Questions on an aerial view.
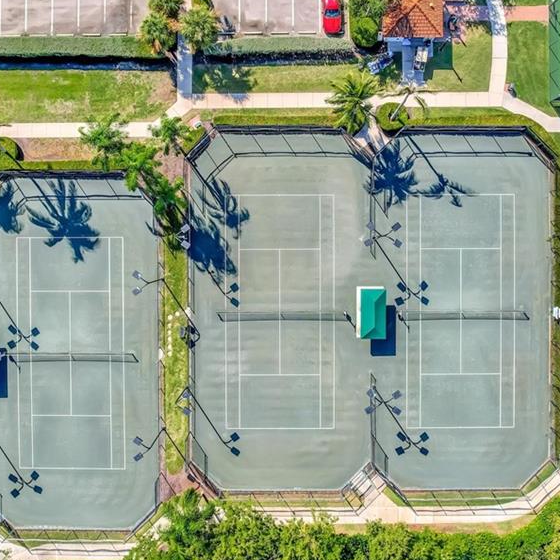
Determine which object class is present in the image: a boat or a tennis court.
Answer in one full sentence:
The one in the frame is a tennis court.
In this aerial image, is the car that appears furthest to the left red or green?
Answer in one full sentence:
The color of the car that appears furthest to the left is red.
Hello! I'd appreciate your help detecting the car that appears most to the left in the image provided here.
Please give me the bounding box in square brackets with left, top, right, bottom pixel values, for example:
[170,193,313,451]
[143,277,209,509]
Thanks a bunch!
[321,0,344,34]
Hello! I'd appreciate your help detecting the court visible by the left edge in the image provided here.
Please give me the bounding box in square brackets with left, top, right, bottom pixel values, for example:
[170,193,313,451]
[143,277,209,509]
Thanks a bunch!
[0,176,158,529]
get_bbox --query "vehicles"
[369,51,394,71]
[414,43,431,68]
[321,0,344,34]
